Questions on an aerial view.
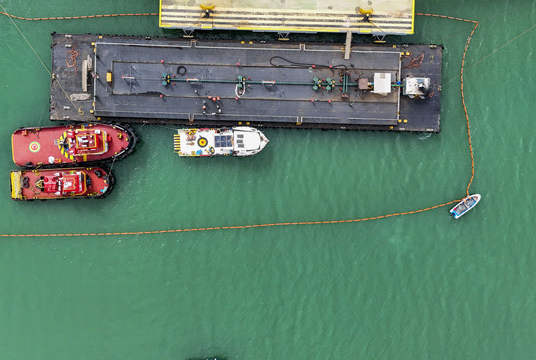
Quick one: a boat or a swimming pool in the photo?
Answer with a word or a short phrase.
boat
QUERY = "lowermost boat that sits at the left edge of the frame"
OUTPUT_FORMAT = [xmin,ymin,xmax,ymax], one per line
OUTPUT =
[11,164,118,202]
